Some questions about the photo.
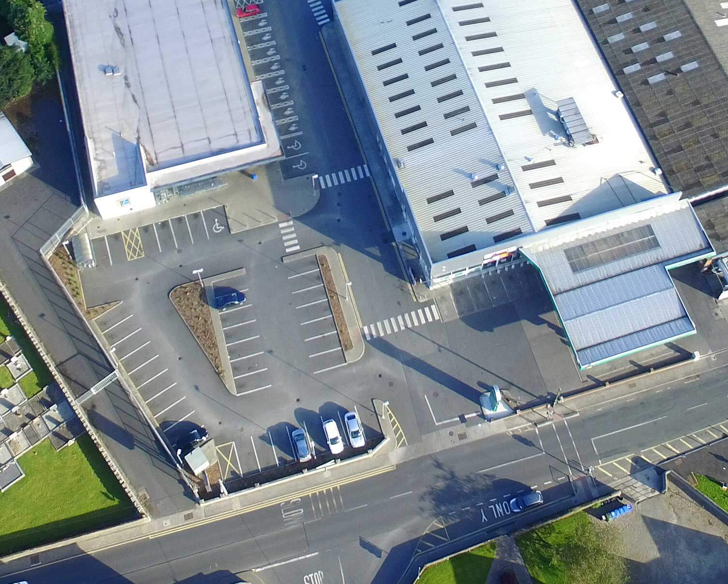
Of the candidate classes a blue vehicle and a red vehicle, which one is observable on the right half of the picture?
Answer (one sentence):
It is a blue vehicle that can be seen on the right half of the picture.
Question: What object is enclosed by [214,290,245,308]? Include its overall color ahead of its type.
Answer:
blue car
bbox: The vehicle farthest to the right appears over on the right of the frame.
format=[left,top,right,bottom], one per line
[510,490,544,513]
